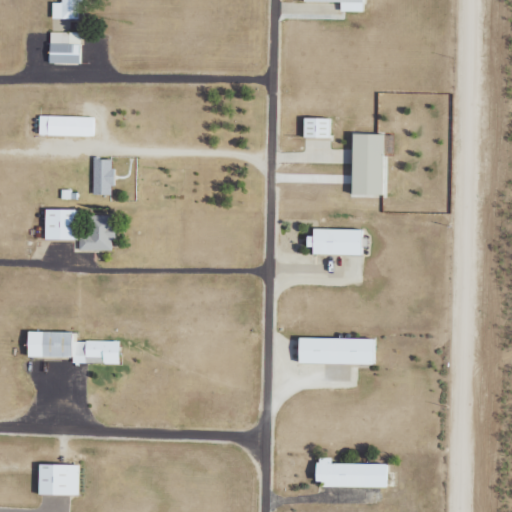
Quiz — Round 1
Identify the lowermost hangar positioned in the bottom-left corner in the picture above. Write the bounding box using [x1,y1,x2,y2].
[38,464,80,496]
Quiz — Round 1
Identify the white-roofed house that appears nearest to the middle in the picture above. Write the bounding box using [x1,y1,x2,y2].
[306,228,364,254]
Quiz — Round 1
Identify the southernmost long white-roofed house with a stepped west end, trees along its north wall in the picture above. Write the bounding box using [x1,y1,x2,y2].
[316,458,395,488]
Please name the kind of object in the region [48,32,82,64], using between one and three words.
building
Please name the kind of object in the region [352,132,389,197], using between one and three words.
hangar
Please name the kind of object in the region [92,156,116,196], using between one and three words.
house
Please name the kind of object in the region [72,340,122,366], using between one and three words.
house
